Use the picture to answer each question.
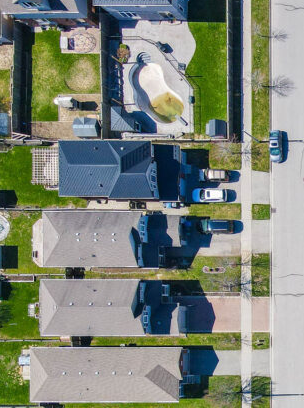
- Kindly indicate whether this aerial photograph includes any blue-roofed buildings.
Yes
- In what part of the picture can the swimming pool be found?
top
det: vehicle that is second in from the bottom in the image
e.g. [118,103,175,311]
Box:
[193,187,229,203]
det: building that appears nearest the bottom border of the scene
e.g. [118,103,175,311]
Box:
[30,347,201,402]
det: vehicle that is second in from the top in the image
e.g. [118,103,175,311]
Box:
[205,168,233,183]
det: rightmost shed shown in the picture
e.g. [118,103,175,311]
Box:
[206,118,228,139]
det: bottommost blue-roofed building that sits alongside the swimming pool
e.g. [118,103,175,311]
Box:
[57,140,189,201]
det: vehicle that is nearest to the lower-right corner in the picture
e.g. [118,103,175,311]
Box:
[203,218,236,234]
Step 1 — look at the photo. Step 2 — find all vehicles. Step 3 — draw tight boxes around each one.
[203,218,236,234]
[193,187,229,203]
[269,130,284,163]
[205,168,233,183]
